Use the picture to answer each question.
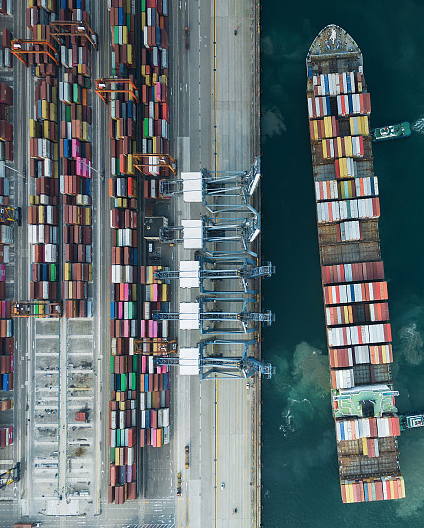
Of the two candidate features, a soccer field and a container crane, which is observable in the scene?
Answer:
container crane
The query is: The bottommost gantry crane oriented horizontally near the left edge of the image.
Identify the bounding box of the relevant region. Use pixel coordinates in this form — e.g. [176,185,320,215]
[9,298,60,319]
